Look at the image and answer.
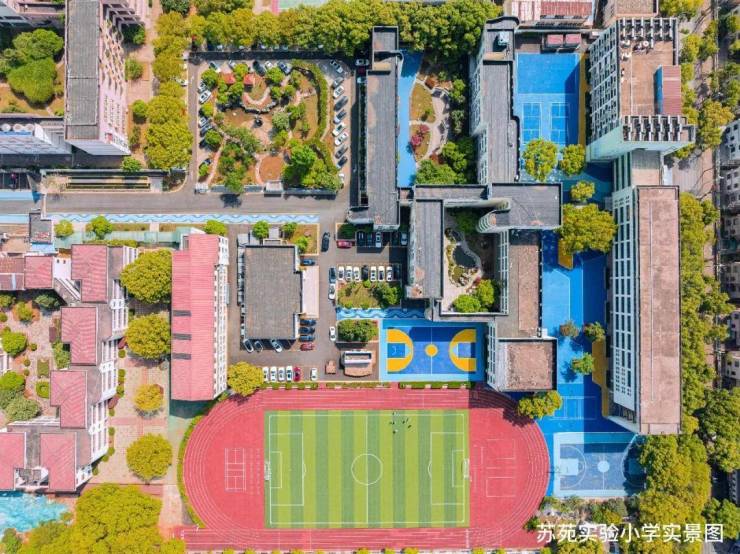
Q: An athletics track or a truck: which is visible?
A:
athletics track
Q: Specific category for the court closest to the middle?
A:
basketball court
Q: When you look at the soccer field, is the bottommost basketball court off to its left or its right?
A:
right of it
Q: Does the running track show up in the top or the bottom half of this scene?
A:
bottom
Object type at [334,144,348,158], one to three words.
vehicle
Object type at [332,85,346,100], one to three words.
car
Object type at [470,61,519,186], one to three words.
building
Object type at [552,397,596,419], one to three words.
sports court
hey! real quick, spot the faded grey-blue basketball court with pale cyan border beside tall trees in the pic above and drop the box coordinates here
[553,433,652,497]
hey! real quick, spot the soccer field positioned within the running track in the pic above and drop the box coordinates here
[265,410,469,527]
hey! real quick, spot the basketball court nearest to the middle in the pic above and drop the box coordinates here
[379,319,488,382]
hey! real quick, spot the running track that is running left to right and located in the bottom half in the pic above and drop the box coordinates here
[166,387,559,551]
